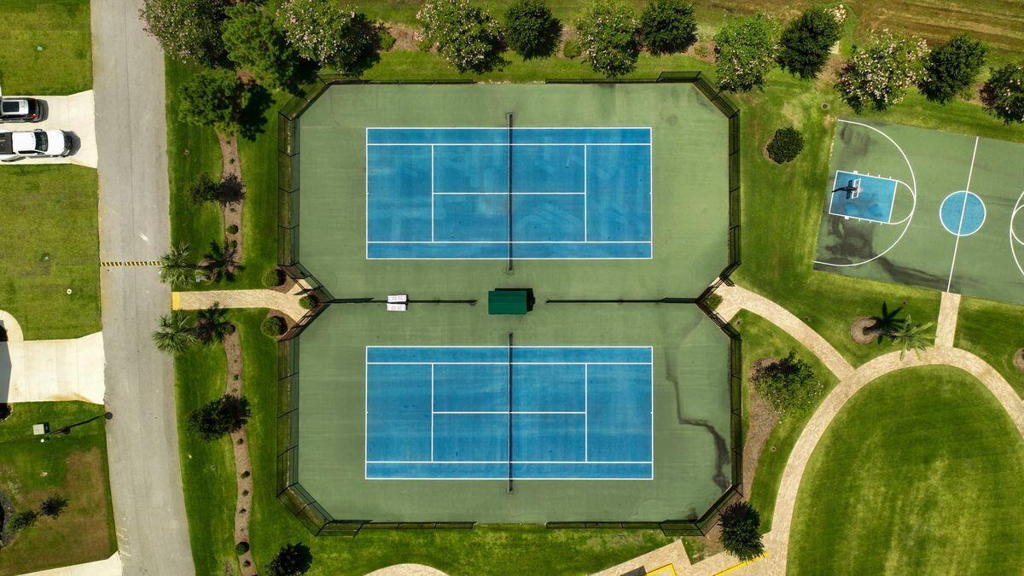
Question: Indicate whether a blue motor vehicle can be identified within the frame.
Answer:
No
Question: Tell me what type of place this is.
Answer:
sports ground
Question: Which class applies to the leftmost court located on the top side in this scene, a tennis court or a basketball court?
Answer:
tennis court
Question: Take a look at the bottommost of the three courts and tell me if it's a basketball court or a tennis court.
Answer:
tennis court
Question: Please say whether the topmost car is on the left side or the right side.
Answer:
left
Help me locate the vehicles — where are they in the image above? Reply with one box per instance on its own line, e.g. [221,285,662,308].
[0,130,77,159]
[0,96,45,124]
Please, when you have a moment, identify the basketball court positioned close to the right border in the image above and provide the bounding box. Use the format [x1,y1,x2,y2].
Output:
[814,120,1024,305]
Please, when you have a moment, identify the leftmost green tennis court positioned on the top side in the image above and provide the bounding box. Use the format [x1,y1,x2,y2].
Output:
[290,83,729,301]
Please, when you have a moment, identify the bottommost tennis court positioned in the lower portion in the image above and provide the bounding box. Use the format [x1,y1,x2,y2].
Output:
[288,301,732,523]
